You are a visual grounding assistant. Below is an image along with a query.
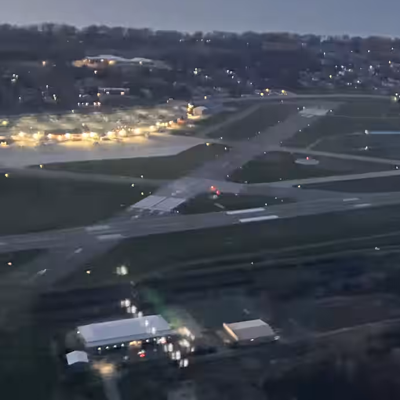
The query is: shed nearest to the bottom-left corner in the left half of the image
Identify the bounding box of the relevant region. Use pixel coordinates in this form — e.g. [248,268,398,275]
[60,352,89,368]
